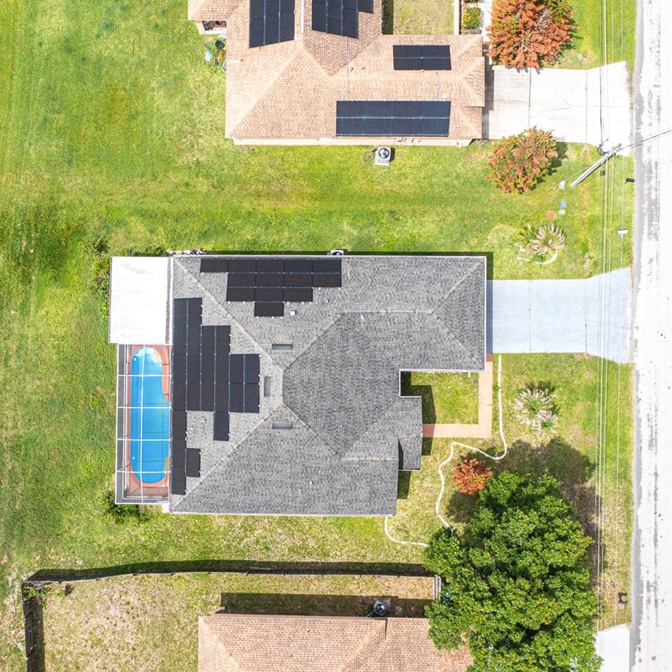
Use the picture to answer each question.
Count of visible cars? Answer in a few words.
none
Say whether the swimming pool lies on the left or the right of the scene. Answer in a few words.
left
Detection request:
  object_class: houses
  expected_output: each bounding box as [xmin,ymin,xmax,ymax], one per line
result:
[188,0,485,147]
[108,255,488,517]
[197,603,484,672]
